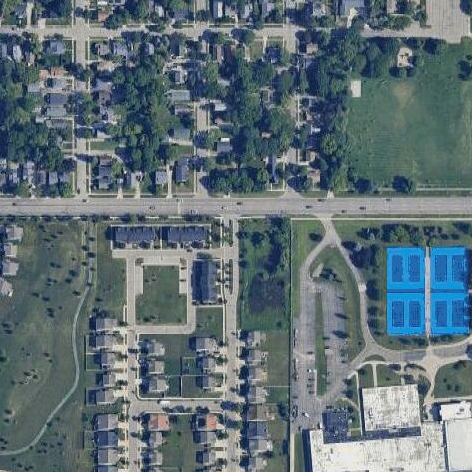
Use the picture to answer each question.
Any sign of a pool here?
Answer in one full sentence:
No, I can't see a single pool in this photo.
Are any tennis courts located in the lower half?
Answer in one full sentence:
Yes, a tennis court can be seen in the lower half.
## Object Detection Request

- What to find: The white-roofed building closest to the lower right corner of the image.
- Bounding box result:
[310,383,472,472]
